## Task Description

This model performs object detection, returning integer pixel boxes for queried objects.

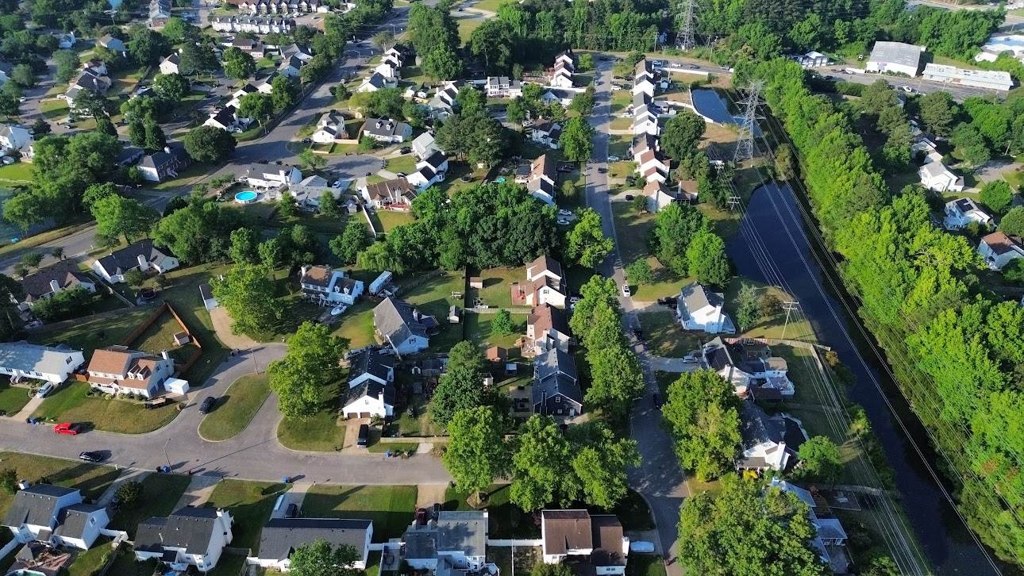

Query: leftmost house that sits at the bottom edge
[5,481,108,576]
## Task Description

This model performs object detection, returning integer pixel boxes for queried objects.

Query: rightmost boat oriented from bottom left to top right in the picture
[329,300,351,317]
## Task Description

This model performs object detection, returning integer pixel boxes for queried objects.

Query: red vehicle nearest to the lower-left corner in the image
[52,421,84,436]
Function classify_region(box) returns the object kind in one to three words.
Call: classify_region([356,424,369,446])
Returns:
vehicle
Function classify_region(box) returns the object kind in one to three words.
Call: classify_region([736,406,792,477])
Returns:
house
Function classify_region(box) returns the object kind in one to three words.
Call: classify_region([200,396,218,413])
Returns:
car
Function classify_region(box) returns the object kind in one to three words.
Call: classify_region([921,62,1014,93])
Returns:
building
